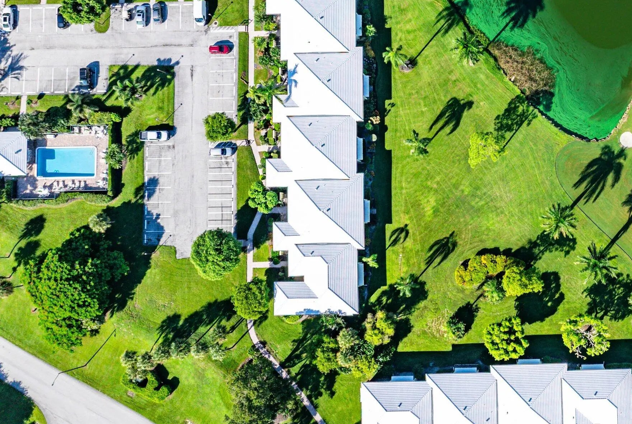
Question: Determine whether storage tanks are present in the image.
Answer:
No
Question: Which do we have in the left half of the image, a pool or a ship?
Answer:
pool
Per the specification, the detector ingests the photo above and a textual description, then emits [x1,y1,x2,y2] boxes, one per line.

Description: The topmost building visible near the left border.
[0,132,34,176]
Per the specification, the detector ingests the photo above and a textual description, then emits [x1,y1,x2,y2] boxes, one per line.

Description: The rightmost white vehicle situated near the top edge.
[190,0,205,26]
